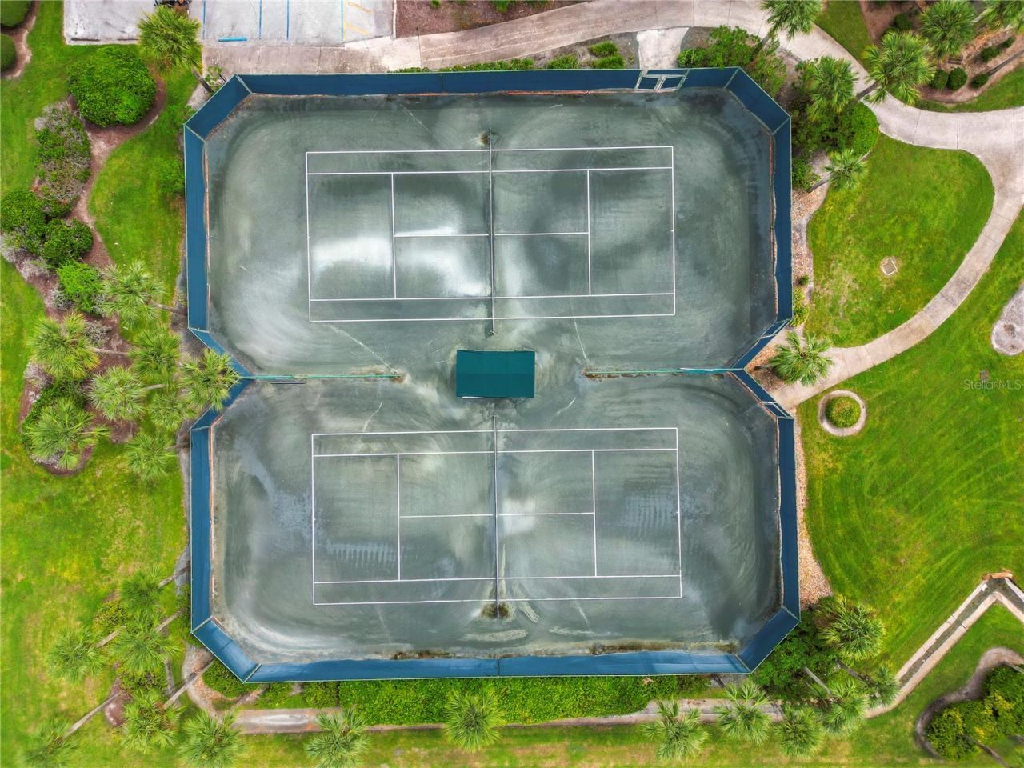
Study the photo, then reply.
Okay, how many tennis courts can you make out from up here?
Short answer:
two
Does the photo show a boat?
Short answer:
No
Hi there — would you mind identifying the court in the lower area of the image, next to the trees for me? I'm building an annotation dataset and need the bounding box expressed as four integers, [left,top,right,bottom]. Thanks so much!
[211,370,782,663]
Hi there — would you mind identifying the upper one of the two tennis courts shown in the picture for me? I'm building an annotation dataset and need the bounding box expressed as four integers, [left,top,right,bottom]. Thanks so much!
[205,88,776,376]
